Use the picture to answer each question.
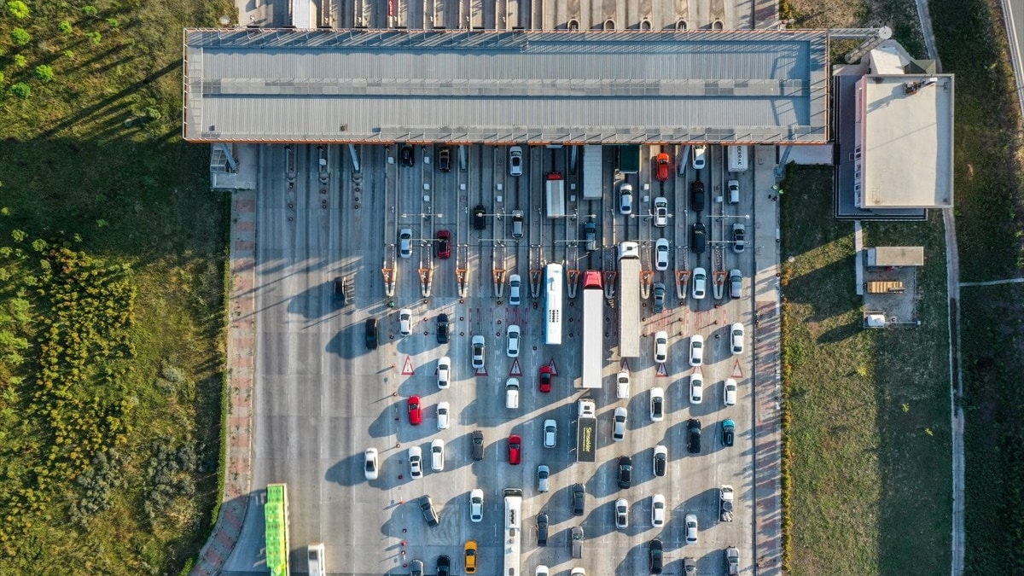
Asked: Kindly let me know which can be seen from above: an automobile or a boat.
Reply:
automobile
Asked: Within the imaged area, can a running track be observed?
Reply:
No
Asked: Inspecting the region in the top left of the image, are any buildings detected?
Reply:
No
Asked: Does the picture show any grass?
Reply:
Yes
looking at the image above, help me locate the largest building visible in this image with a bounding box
[853,74,957,209]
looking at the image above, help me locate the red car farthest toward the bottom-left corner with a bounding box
[407,395,422,425]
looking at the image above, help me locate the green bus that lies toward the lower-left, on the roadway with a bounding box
[265,480,291,576]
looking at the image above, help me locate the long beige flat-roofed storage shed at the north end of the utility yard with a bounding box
[862,247,924,265]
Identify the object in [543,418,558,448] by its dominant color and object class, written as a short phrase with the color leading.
blue car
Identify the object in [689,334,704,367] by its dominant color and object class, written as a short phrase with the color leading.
white car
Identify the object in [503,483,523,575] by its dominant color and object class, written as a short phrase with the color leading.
white bus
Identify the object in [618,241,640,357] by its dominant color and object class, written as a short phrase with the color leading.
white truck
